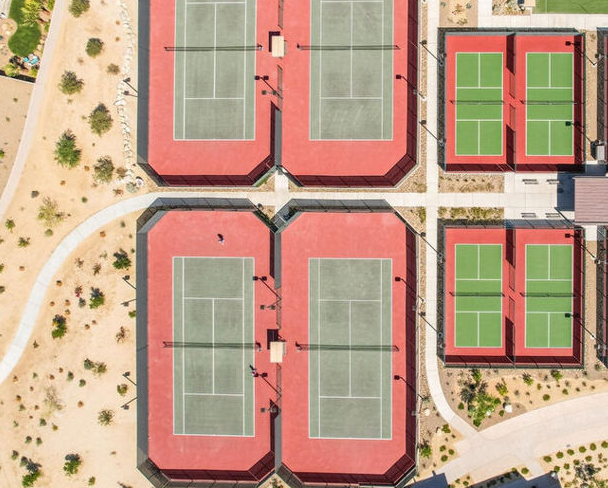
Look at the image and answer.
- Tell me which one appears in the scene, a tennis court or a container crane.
tennis court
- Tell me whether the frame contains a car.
No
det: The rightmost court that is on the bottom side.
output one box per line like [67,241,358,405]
[514,231,582,364]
